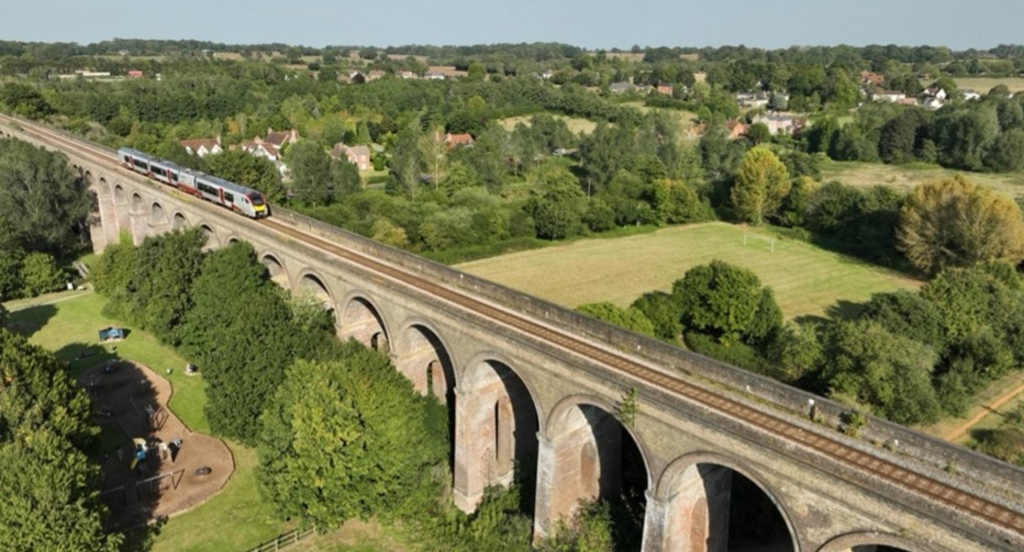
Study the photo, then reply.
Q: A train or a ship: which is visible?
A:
train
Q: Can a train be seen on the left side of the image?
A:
Yes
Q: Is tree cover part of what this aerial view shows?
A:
Yes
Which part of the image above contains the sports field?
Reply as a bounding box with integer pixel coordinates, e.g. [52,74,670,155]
[451,221,929,355]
